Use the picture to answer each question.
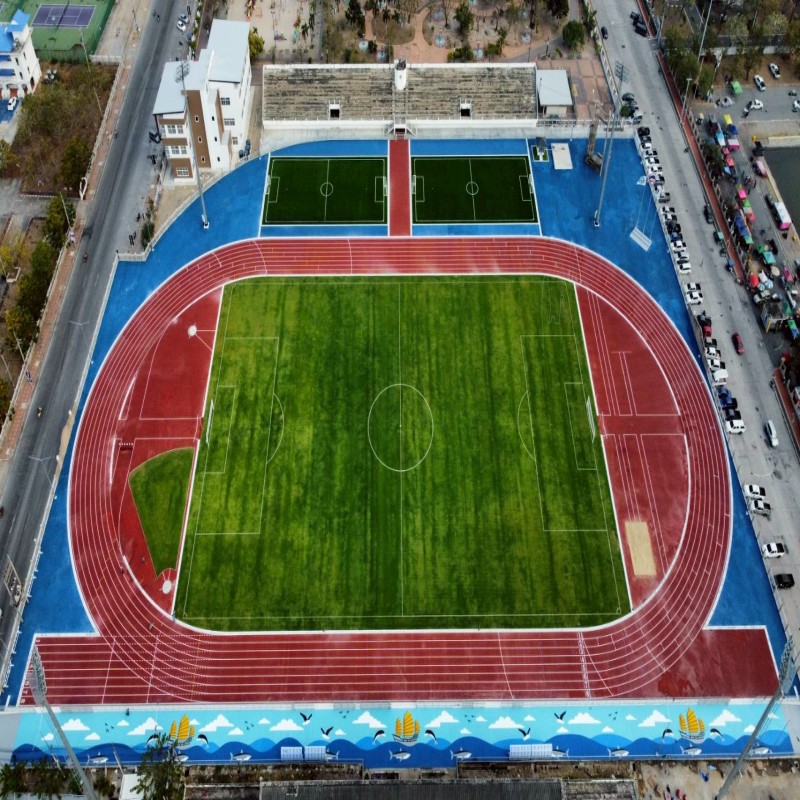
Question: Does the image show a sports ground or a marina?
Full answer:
It's a sports ground.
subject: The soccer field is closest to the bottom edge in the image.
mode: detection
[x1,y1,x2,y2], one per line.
[172,275,634,629]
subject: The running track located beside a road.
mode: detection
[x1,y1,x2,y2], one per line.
[20,238,784,703]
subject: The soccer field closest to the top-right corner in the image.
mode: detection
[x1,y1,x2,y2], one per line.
[409,138,541,236]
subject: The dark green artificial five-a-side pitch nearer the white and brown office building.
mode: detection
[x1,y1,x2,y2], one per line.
[256,143,389,237]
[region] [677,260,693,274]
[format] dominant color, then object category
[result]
white car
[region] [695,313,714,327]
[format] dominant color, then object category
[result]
black vehicle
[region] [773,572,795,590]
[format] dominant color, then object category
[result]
black car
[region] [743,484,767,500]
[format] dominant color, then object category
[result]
white vehicle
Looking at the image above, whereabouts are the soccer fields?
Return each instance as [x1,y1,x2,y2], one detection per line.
[409,138,541,236]
[172,275,634,629]
[256,143,389,237]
